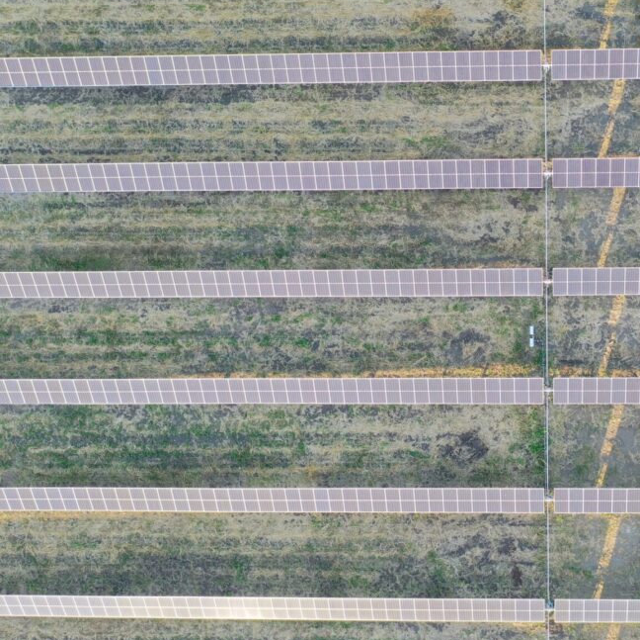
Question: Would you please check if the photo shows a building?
No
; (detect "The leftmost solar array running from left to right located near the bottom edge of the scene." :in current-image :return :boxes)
[0,596,548,620]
